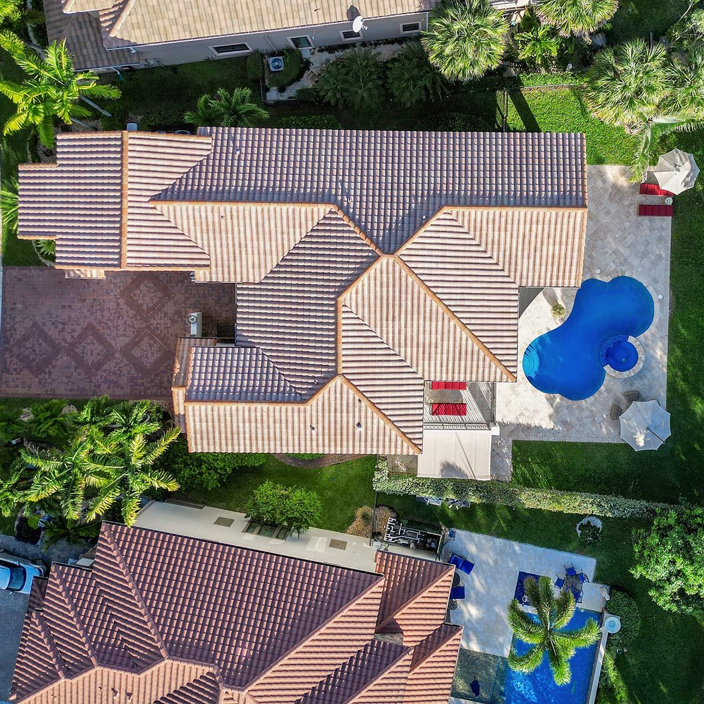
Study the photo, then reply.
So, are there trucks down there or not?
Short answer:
No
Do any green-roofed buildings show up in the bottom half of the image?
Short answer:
No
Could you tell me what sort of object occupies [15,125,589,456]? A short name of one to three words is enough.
house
